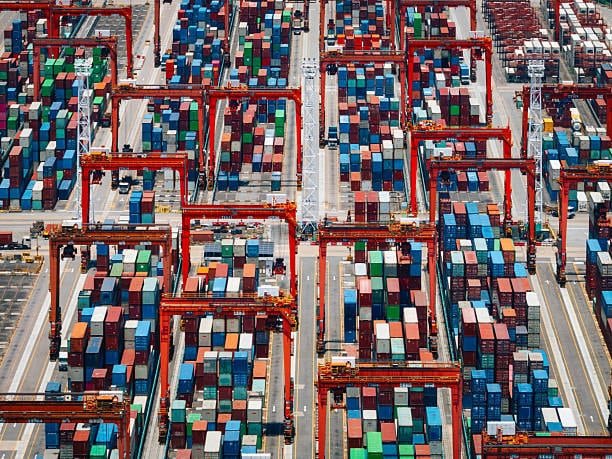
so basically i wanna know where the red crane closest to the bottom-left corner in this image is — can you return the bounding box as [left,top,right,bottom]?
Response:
[0,385,144,459]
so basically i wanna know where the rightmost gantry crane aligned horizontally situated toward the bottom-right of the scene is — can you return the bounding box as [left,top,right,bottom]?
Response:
[469,417,612,459]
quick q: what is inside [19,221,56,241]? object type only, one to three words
work vehicle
